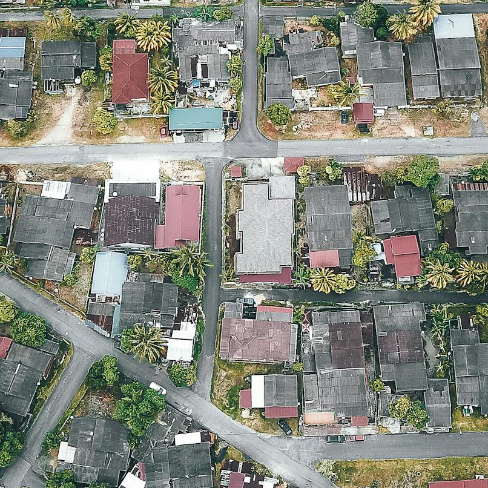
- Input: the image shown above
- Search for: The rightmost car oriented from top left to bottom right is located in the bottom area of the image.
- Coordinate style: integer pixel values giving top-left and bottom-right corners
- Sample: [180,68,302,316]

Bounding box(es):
[278,419,293,437]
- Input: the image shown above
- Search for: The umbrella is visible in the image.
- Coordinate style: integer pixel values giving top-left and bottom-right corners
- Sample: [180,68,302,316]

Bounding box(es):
[201,86,216,99]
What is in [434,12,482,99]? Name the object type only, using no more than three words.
house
